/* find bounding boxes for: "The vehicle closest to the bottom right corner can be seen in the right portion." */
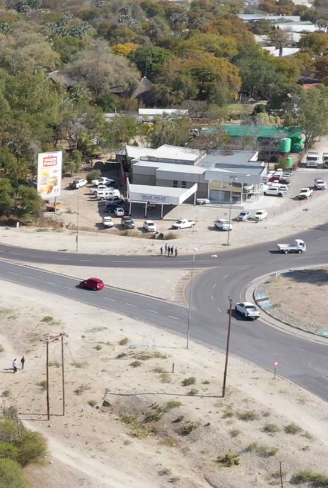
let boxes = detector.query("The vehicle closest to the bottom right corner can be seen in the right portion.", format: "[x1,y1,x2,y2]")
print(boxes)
[233,304,260,322]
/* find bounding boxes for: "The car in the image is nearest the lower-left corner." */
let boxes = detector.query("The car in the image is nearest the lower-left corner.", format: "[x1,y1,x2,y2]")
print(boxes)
[78,280,106,296]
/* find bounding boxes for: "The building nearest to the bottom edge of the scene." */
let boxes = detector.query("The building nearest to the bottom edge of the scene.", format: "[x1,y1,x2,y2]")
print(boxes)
[139,148,274,206]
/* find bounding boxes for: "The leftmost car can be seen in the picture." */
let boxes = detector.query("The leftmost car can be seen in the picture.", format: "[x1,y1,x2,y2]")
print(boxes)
[68,178,88,190]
